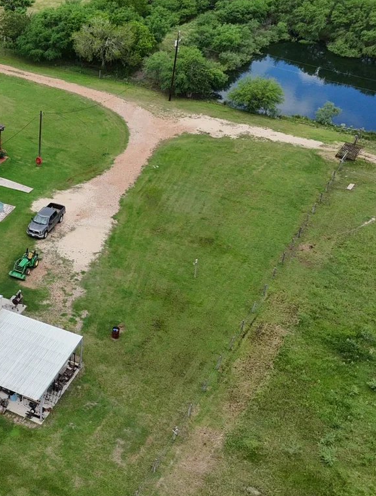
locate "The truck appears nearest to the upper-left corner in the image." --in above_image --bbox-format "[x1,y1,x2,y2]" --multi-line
[25,204,67,238]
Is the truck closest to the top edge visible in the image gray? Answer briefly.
Yes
